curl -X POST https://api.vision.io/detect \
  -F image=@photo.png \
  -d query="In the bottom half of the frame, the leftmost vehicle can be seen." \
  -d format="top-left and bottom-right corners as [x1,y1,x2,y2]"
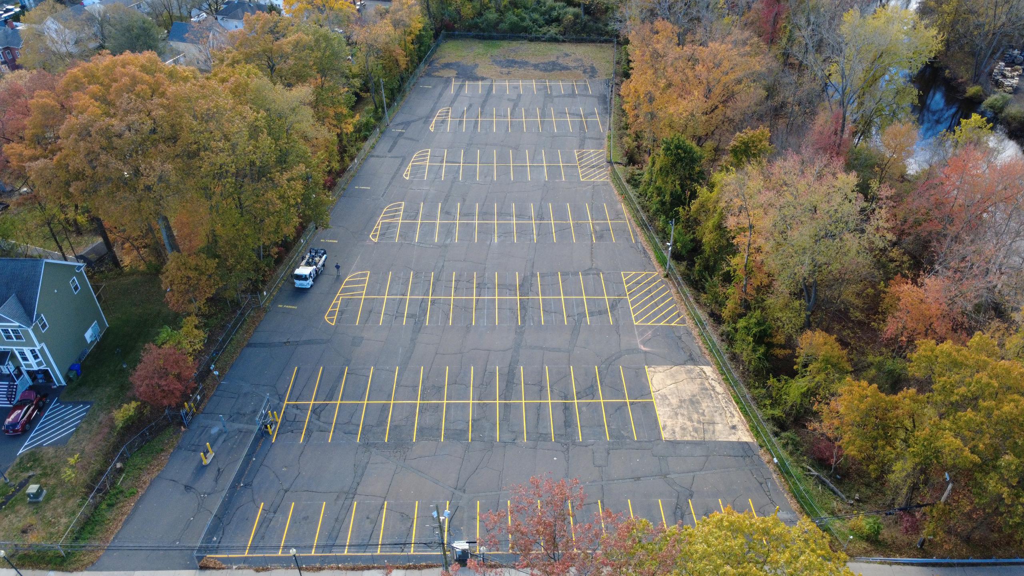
[2,389,42,431]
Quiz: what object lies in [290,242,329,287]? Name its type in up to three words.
truck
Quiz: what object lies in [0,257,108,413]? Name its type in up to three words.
house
